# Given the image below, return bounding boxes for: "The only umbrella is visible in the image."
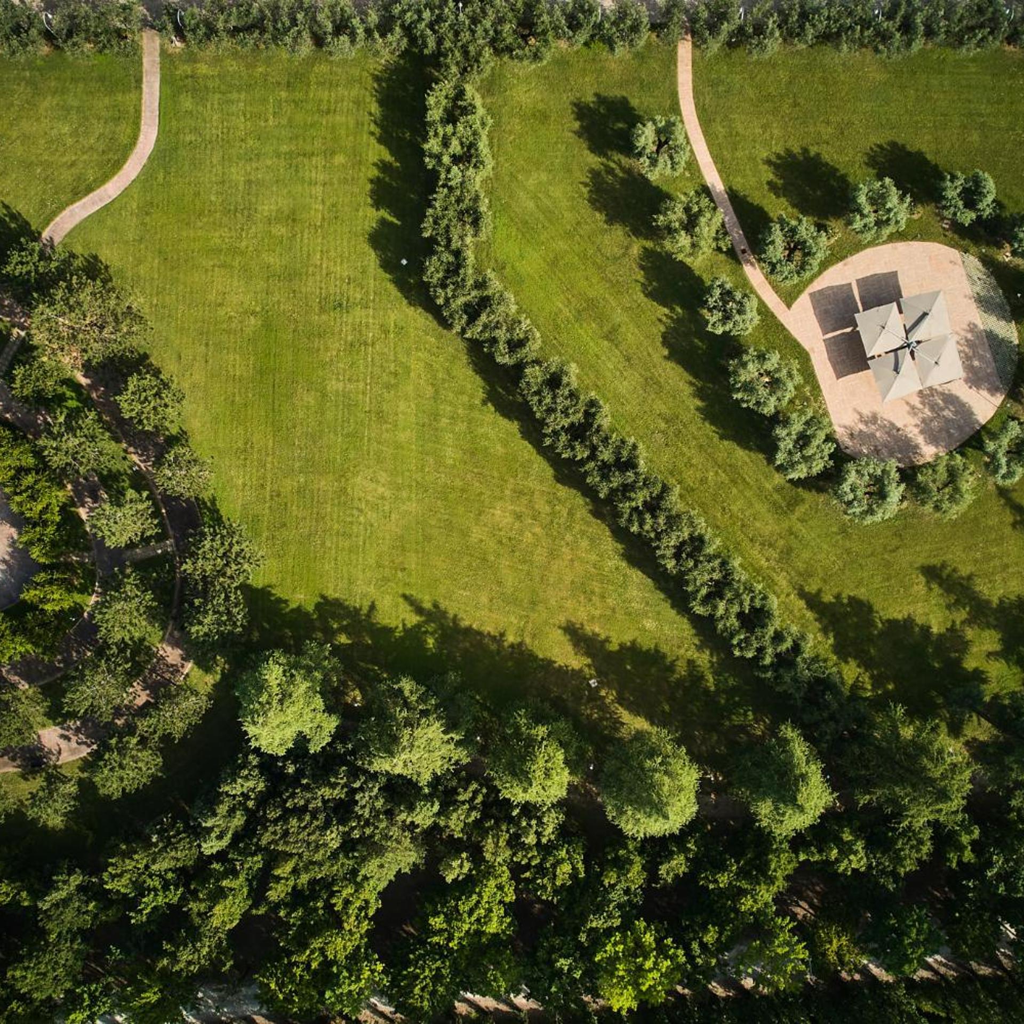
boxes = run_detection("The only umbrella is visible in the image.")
[854,290,964,402]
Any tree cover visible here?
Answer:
Yes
